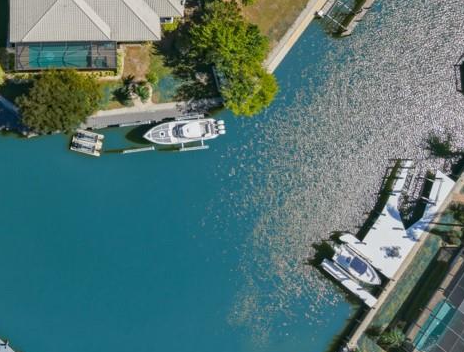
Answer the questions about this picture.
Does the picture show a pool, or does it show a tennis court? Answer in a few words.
pool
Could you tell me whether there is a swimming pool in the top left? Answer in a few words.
Yes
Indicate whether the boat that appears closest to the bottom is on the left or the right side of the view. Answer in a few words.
right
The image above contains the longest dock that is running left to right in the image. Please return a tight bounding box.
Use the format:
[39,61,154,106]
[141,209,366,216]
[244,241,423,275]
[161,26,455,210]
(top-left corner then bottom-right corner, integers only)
[81,101,225,131]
